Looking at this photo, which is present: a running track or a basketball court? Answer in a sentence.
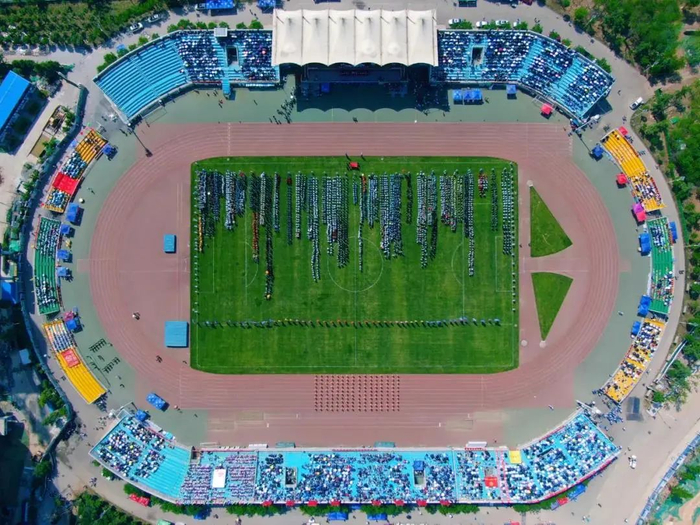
The image shows a running track.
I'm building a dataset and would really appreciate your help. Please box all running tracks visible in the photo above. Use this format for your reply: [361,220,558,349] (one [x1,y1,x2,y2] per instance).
[77,123,631,446]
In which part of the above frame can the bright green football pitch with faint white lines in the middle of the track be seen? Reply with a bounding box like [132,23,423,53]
[191,157,518,375]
